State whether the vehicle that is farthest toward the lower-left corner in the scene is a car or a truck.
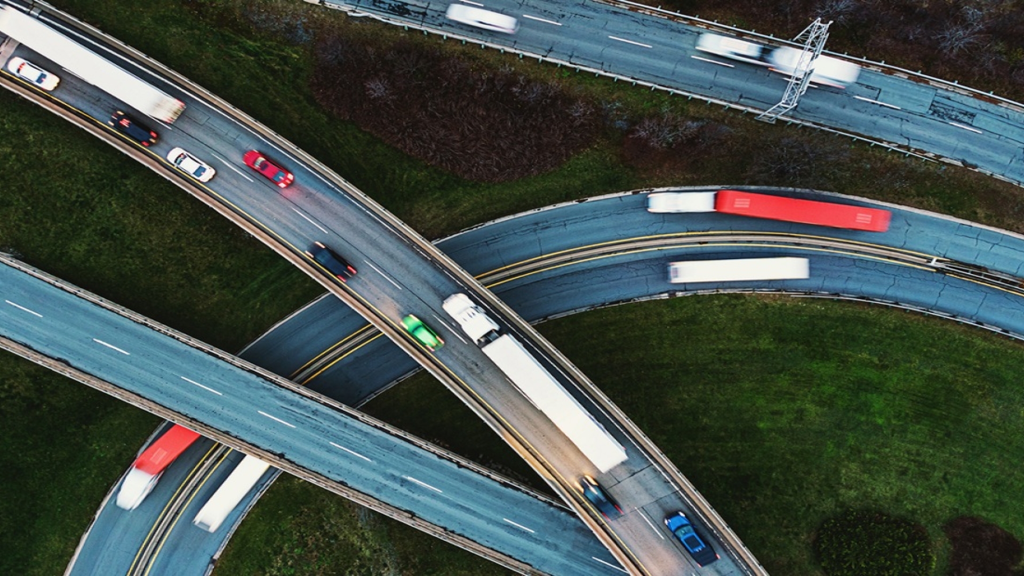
truck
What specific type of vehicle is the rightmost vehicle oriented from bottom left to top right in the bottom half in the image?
truck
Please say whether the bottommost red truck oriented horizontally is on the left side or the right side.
right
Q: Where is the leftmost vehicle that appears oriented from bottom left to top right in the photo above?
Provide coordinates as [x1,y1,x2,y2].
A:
[120,422,205,504]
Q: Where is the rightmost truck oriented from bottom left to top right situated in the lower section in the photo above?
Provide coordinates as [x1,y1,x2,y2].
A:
[195,453,274,534]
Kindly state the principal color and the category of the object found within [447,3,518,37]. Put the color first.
white van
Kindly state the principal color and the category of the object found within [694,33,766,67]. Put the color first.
white van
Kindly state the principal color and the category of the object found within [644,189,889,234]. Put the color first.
red truck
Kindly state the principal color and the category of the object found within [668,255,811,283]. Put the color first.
white truck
